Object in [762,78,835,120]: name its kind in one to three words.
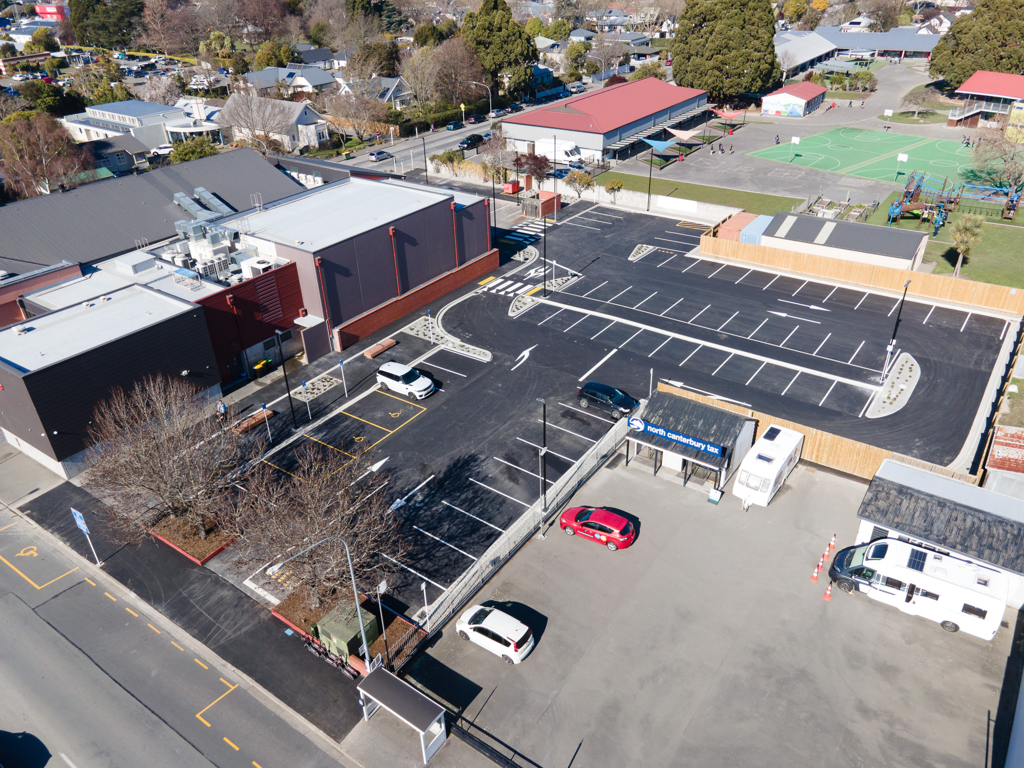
shed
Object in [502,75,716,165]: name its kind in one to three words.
building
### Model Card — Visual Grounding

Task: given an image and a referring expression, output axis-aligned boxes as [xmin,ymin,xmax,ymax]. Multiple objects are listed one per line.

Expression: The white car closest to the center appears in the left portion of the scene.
[377,357,440,399]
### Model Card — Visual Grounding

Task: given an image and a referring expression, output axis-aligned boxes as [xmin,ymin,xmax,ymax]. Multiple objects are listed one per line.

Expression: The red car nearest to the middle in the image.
[558,502,640,550]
